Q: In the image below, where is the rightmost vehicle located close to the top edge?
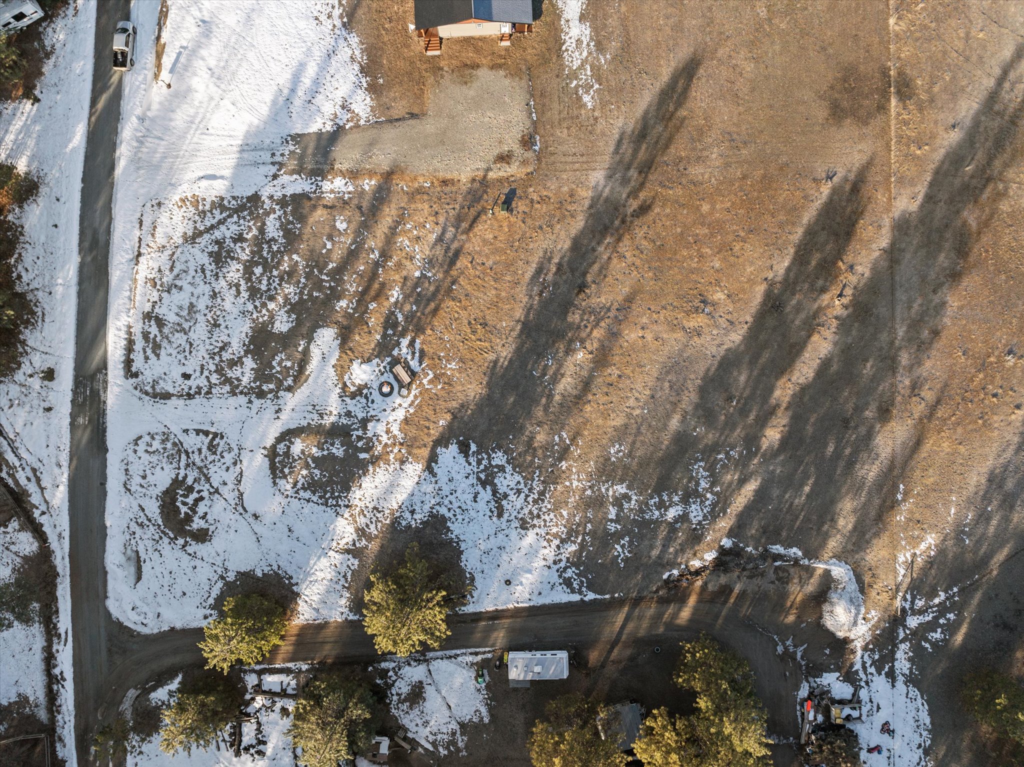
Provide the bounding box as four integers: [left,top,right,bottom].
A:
[109,21,135,73]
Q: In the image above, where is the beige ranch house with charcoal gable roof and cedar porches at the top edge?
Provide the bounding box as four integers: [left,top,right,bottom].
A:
[414,0,533,63]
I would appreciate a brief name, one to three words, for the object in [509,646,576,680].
vehicle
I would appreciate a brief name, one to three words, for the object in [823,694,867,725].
trailer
